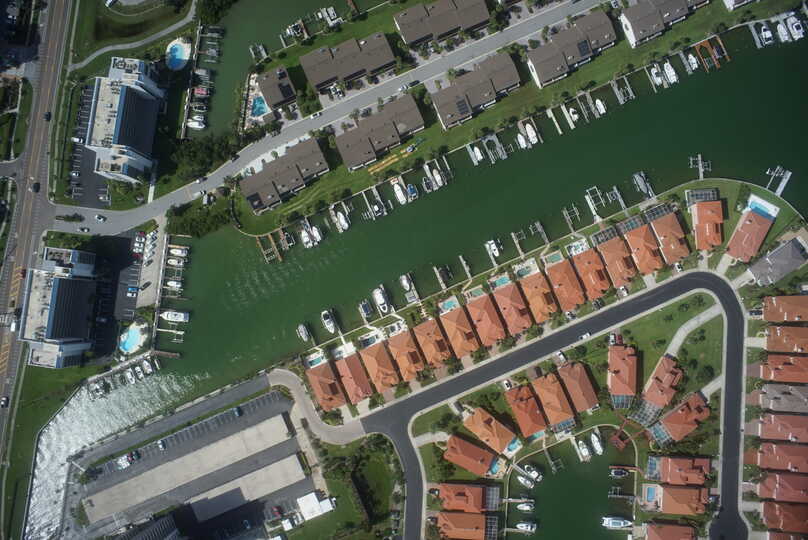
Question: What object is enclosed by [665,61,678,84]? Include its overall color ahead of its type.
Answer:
white boat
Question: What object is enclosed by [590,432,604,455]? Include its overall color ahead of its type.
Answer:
white boat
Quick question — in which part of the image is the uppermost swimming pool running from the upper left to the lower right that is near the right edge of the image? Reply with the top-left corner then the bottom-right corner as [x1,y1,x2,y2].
[751,194,780,222]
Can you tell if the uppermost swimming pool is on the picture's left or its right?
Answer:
left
